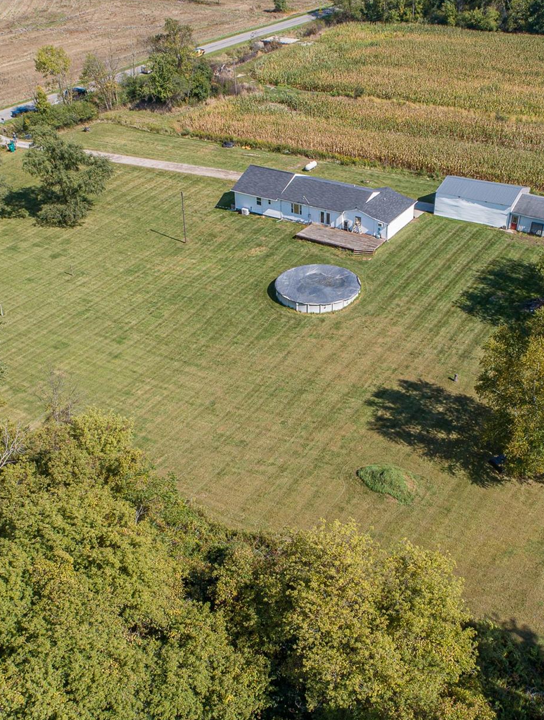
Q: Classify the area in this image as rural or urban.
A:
rural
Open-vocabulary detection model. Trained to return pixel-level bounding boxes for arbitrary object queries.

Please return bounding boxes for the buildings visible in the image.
[433,172,532,229]
[229,165,419,244]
